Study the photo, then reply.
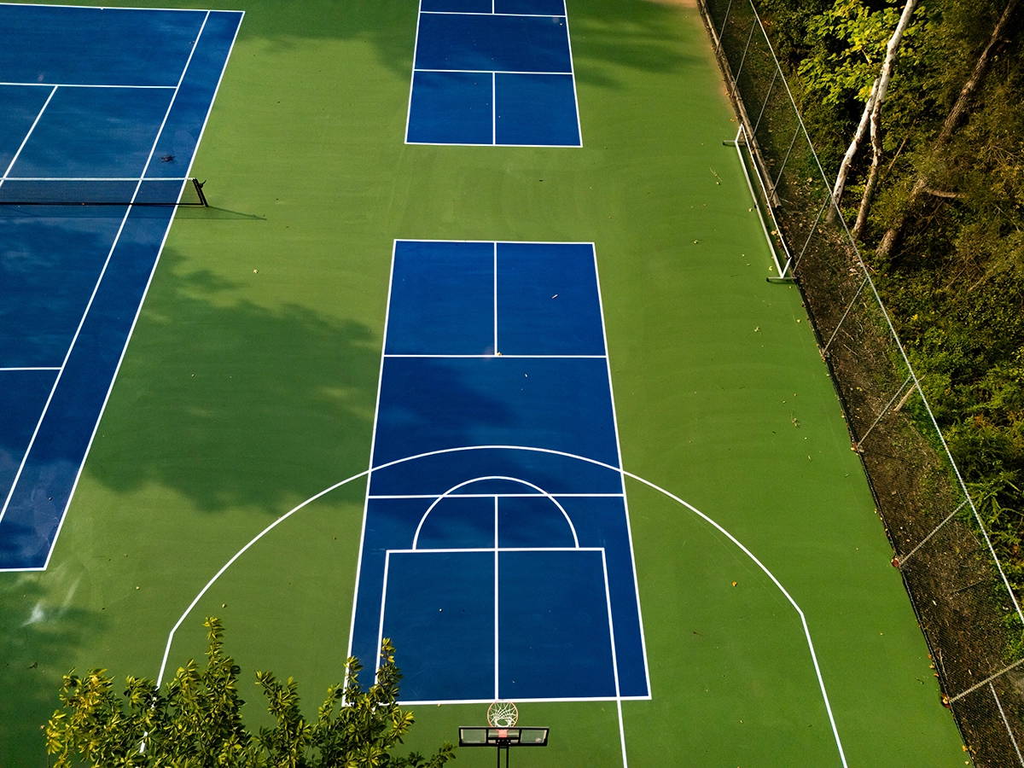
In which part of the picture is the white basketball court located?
bottom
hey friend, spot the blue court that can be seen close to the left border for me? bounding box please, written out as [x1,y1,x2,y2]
[0,6,245,570]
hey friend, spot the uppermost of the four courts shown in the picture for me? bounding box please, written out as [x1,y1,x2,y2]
[405,0,582,147]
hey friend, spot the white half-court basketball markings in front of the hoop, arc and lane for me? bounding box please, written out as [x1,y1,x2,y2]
[137,445,847,768]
